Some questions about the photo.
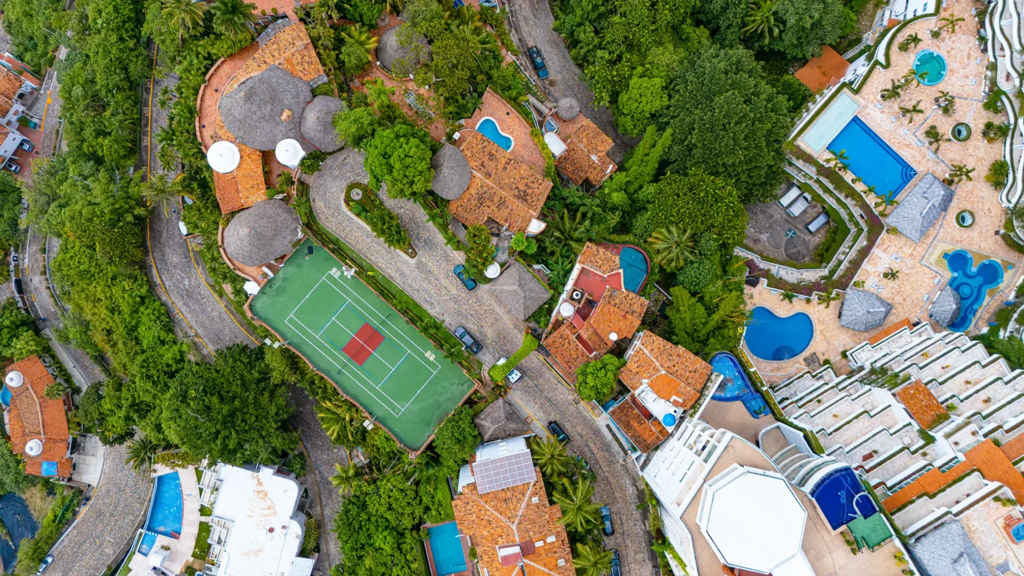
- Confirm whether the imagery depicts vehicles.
Yes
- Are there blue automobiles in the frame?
Yes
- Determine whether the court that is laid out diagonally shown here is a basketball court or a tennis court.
tennis court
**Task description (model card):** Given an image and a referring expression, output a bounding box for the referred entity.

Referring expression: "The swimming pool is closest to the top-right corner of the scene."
[912,49,949,86]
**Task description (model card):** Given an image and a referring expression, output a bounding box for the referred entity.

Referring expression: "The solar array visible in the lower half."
[472,449,536,494]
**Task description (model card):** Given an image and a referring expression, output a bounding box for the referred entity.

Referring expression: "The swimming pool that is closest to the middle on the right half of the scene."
[612,244,653,298]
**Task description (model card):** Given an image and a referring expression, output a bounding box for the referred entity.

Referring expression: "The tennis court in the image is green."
[245,236,479,457]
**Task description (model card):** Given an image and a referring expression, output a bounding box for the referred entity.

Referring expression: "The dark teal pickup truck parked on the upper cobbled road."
[526,43,549,79]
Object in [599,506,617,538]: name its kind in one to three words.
car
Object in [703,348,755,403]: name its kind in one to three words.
swimming pool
